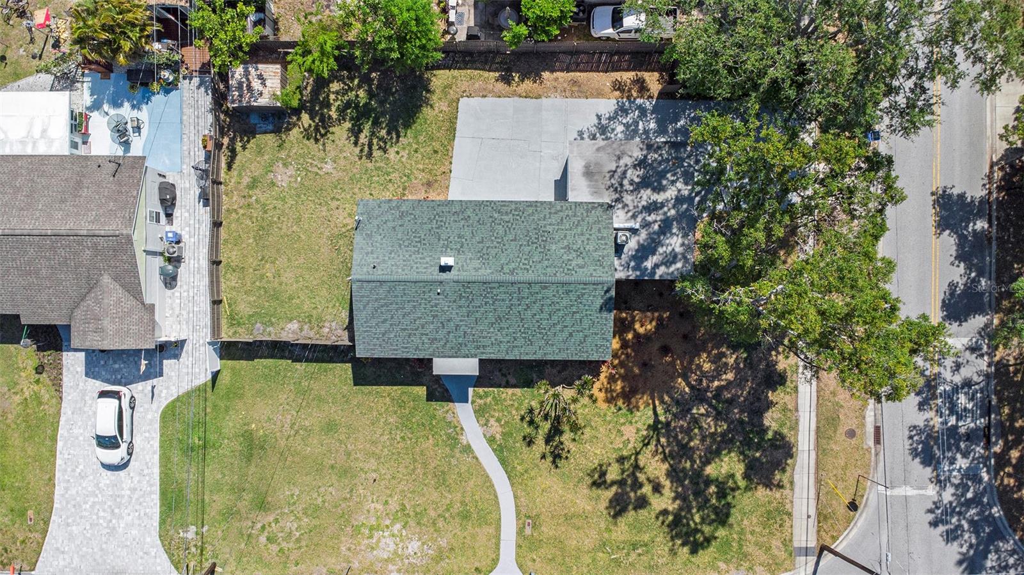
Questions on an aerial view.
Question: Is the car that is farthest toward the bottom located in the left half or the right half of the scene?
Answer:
left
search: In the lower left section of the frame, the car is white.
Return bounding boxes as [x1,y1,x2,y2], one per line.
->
[90,384,135,467]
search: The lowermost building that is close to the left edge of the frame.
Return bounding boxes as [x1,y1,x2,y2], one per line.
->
[0,155,172,351]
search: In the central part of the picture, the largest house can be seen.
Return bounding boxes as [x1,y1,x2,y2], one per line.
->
[347,140,698,375]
